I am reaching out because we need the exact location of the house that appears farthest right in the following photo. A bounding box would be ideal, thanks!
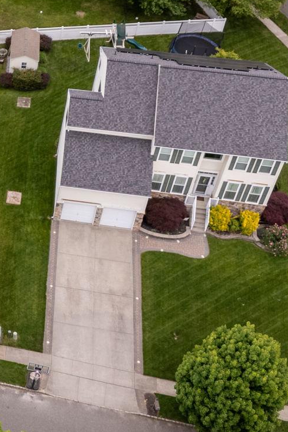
[54,49,288,231]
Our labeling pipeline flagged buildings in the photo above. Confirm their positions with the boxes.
[9,26,43,73]
[54,49,288,231]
